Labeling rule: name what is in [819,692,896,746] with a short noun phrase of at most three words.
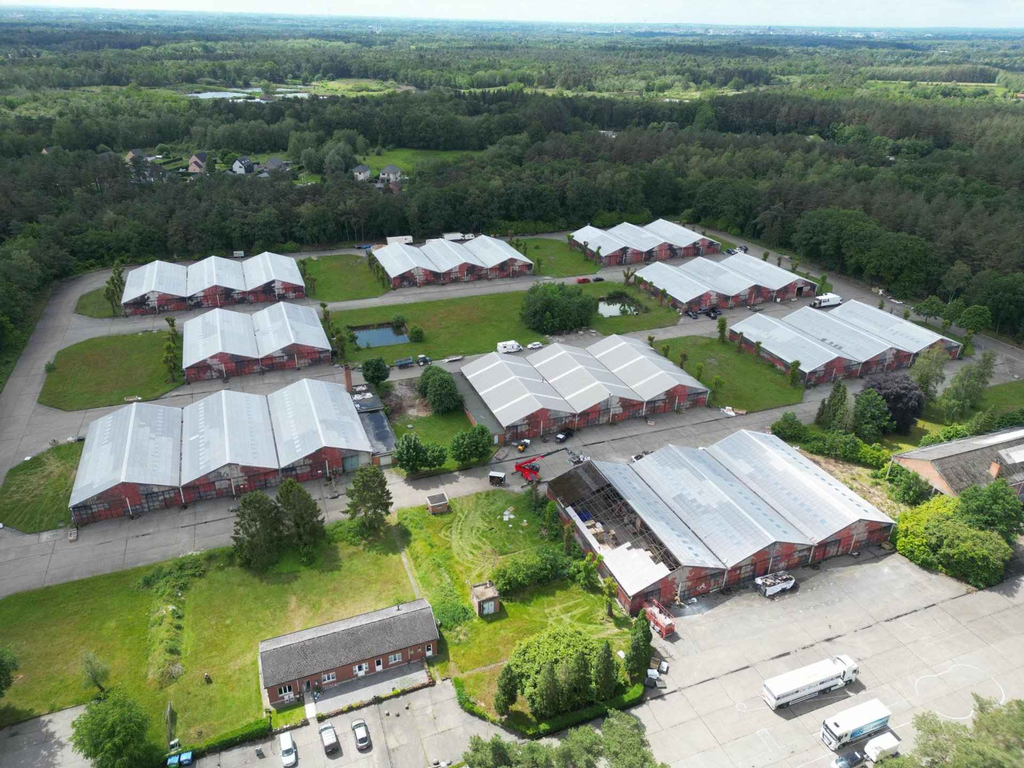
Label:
truck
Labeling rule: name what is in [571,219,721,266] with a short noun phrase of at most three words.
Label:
shed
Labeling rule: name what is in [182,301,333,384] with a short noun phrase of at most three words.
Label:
shed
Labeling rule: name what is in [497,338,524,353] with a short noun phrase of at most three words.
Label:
camper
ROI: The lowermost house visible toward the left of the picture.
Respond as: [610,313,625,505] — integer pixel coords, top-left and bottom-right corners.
[257,600,439,702]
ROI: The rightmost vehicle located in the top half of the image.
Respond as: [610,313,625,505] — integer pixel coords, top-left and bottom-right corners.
[811,291,845,308]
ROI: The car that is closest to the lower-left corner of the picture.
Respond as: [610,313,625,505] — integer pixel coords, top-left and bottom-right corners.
[278,728,296,767]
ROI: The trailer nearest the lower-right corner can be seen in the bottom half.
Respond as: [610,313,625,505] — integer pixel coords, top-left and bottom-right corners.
[865,726,906,759]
